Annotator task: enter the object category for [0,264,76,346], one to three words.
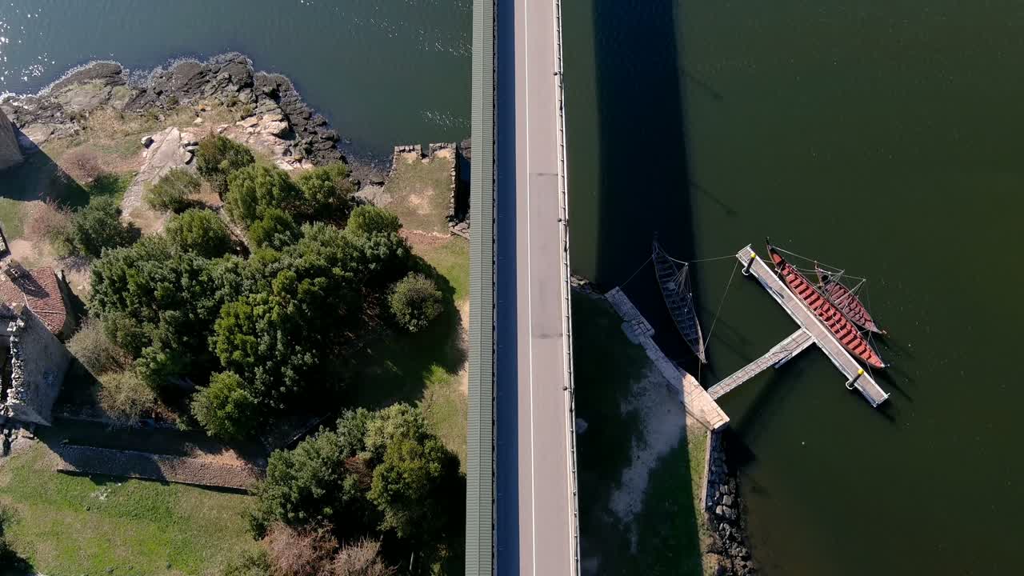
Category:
building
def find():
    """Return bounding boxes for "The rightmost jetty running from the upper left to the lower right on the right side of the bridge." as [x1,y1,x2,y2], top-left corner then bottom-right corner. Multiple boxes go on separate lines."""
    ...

[734,241,892,408]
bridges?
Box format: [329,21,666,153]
[466,0,580,576]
